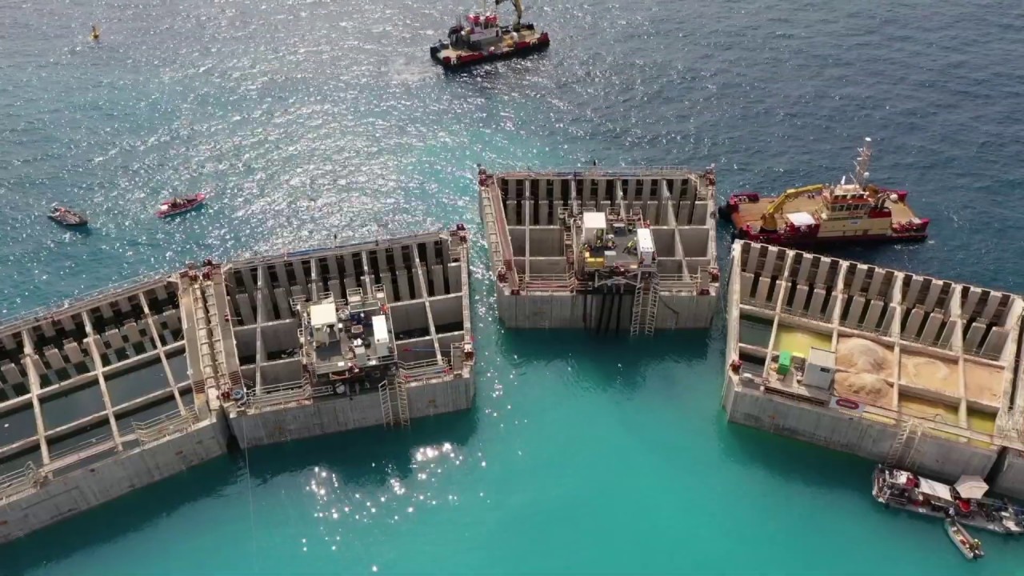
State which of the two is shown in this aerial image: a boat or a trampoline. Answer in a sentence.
The image shows a boat.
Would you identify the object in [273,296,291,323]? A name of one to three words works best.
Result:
pier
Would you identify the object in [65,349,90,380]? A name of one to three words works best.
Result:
pier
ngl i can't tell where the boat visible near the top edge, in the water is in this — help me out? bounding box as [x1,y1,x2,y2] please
[430,0,553,76]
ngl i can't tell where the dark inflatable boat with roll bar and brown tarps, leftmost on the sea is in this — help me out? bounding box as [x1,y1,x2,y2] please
[43,201,89,225]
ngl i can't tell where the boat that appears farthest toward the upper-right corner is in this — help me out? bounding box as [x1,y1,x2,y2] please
[722,143,933,256]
